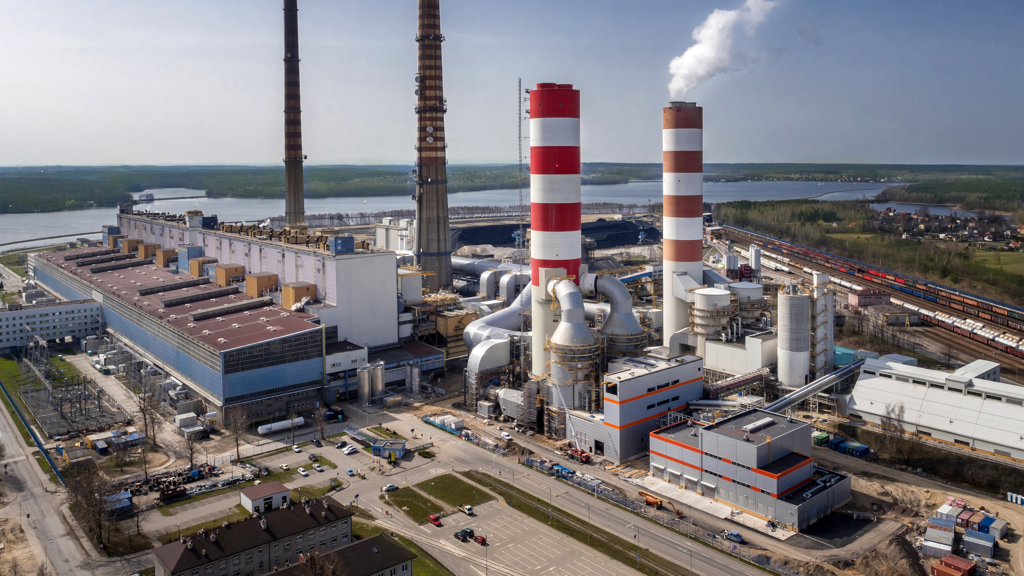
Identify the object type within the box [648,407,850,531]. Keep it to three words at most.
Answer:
building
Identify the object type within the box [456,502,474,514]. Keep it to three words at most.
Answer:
vehicle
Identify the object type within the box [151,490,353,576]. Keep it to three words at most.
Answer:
house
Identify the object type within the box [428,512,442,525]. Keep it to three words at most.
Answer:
vehicle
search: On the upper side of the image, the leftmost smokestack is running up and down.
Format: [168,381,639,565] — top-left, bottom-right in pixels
[284,0,308,227]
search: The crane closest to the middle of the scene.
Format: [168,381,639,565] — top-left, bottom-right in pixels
[551,373,591,460]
